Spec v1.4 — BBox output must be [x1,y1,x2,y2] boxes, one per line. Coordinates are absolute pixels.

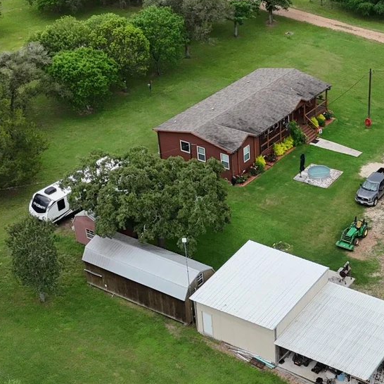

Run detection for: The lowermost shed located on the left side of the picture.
[79,233,216,323]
